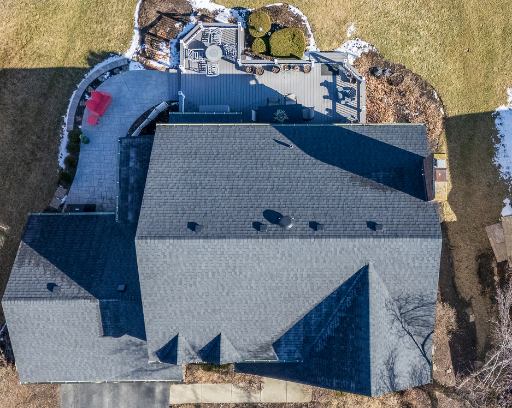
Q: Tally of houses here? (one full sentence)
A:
Just 1 house appears in this view.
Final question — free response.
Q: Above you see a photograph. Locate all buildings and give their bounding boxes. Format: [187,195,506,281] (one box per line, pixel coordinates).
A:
[3,112,450,397]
